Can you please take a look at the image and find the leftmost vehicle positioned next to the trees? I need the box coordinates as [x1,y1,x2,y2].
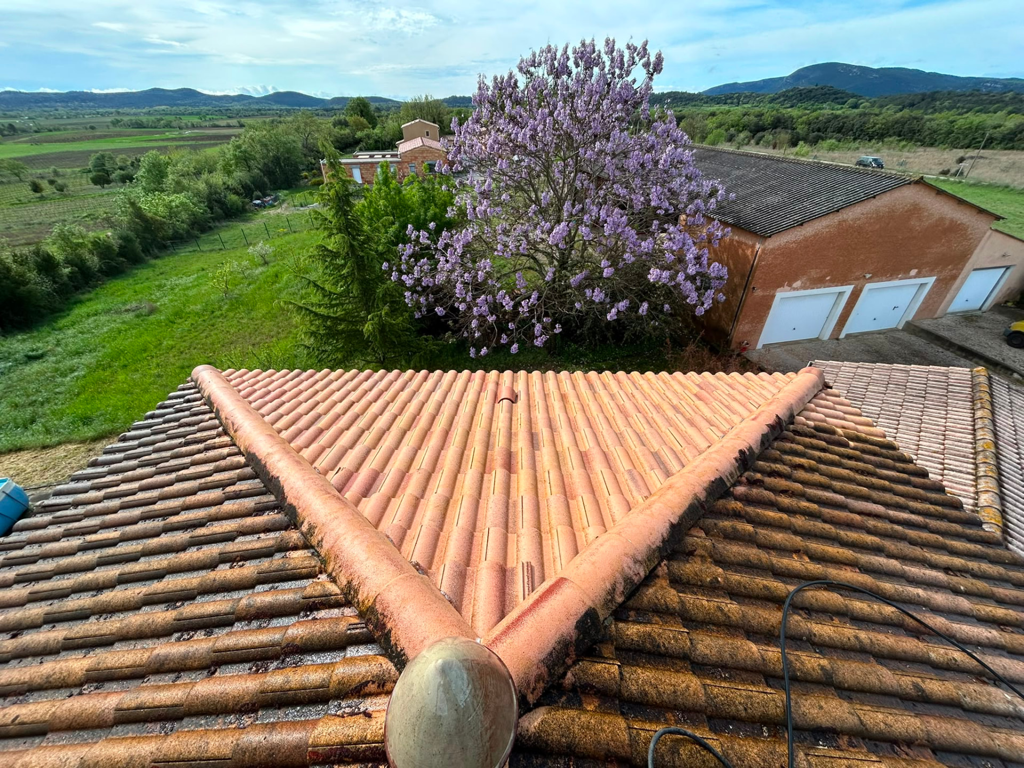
[853,151,891,167]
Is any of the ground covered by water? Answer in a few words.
No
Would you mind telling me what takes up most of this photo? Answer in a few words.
buildings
